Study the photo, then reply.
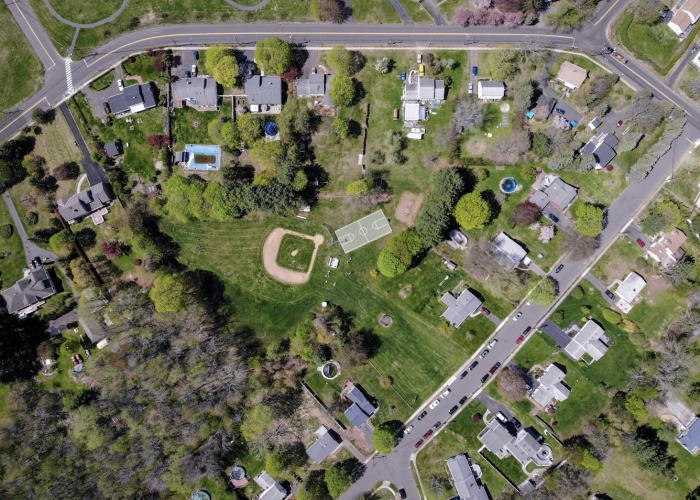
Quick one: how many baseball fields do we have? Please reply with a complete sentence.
In total, 1 baseball field can be seen.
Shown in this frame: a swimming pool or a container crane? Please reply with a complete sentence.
Of the two, only a swimming pool appears.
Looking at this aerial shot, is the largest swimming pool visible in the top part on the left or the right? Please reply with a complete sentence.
You can find the largest swimming pool visible in the top part on the left side of the picture.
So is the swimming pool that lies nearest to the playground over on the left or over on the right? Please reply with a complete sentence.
It is on the right.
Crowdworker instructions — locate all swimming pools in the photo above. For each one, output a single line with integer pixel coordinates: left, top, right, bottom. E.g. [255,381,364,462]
[185,144,221,170]
[191,489,210,500]
[317,360,340,381]
[230,458,250,488]
[265,121,280,142]
[500,176,522,193]
[445,227,470,250]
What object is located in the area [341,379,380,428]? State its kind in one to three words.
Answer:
house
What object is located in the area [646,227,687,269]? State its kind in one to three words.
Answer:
house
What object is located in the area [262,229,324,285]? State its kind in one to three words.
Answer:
baseball field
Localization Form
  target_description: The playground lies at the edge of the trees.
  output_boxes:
[396,191,425,226]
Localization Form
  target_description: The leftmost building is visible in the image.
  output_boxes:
[1,267,60,315]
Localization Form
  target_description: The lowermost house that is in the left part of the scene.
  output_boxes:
[254,469,293,500]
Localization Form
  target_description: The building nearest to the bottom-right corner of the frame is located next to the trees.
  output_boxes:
[660,412,700,458]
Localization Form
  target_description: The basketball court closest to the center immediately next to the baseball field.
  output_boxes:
[335,209,392,253]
